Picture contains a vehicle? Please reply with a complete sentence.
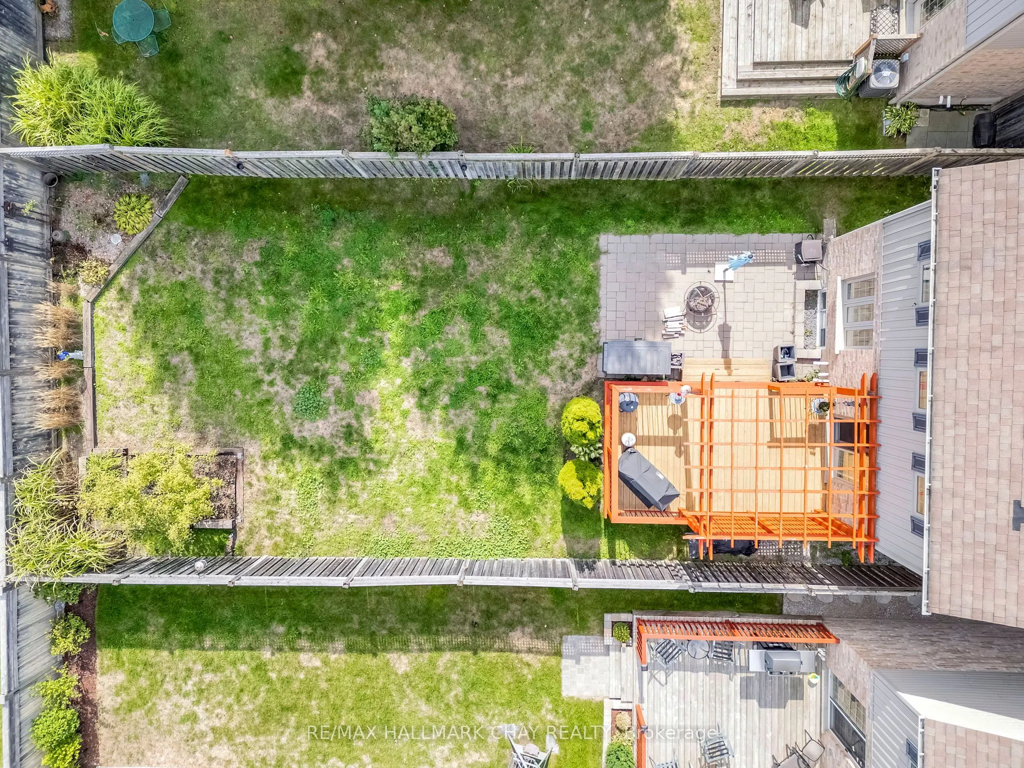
No, there's no vehicle here.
